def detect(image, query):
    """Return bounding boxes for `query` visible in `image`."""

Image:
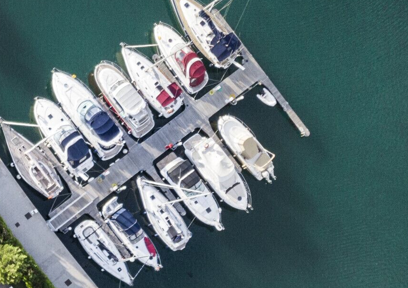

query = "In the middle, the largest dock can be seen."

[39,8,311,260]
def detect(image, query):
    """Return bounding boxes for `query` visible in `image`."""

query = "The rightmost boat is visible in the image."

[256,88,276,107]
